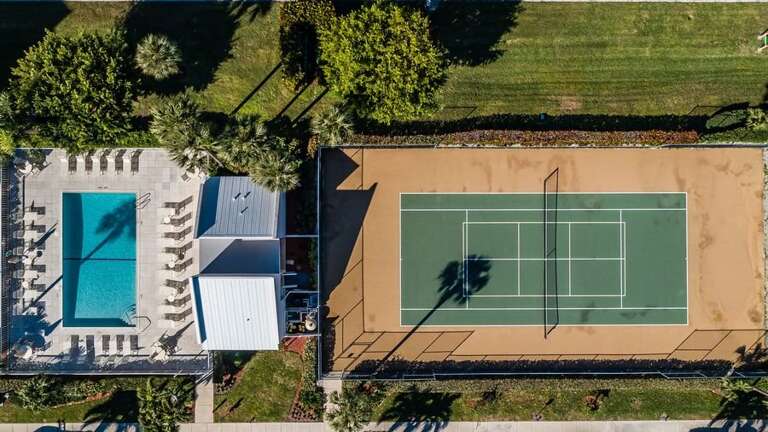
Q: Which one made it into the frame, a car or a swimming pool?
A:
swimming pool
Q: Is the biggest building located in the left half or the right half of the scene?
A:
left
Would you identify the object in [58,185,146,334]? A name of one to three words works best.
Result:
swimming pool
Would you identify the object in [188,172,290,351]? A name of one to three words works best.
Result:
building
